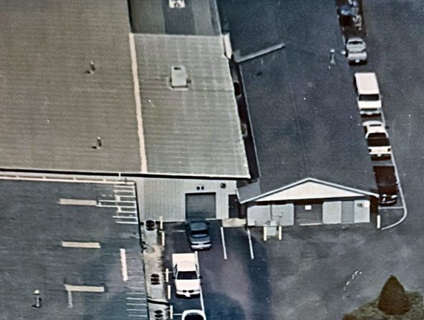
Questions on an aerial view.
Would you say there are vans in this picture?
Yes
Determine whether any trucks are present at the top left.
No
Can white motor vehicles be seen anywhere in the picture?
Yes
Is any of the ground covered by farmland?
No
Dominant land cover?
buildings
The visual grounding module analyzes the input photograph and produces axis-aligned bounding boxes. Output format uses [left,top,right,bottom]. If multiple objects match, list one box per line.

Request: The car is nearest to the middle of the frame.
[183,216,209,247]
